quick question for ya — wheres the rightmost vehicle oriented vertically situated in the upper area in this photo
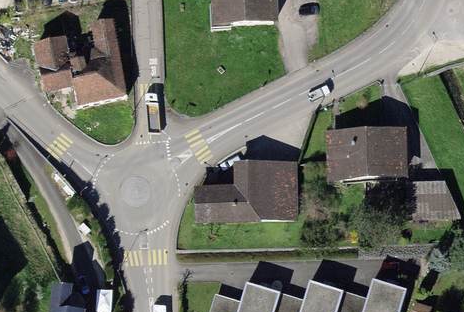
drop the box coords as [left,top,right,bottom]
[144,92,160,134]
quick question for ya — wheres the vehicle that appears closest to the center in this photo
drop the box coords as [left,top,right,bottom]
[220,154,242,169]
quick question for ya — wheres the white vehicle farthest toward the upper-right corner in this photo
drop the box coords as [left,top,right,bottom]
[306,82,333,100]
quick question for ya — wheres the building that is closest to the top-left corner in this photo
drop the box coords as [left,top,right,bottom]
[32,36,69,70]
